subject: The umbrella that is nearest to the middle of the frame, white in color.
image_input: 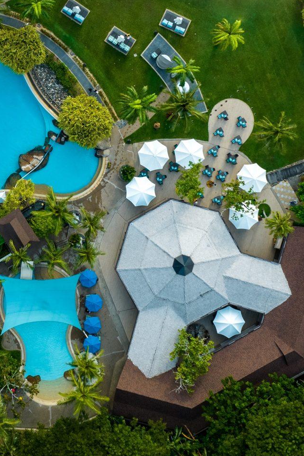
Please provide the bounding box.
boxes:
[123,174,157,208]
